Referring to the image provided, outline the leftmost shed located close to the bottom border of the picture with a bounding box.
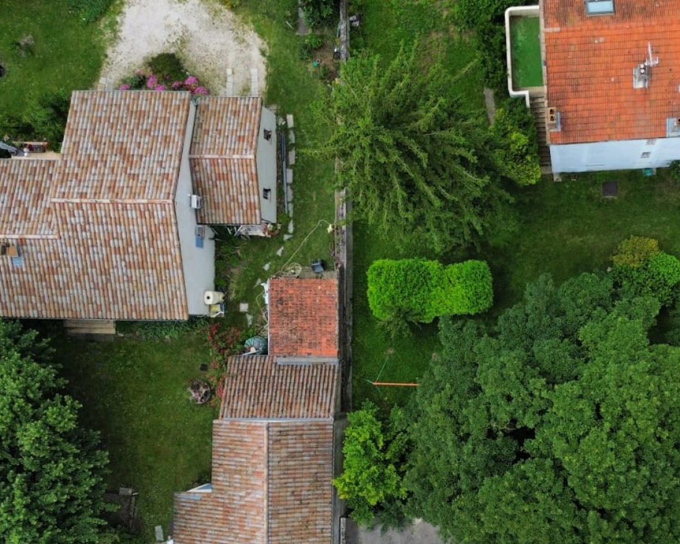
[174,416,341,544]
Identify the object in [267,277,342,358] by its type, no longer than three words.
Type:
shed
